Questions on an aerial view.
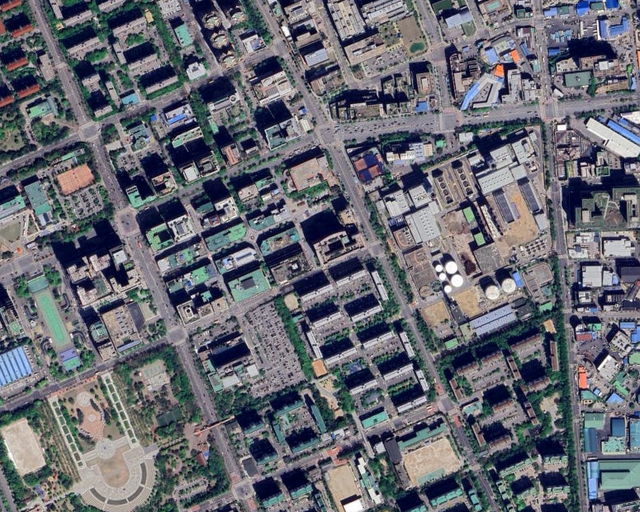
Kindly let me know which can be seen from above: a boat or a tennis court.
tennis court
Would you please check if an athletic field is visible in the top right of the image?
No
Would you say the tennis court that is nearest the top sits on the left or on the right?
left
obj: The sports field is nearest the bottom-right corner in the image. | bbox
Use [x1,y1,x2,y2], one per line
[404,437,461,484]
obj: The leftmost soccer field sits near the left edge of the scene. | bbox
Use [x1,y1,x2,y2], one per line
[1,418,42,477]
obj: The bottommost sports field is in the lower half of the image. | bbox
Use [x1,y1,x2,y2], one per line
[326,465,362,512]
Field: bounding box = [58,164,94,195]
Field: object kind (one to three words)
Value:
tennis court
